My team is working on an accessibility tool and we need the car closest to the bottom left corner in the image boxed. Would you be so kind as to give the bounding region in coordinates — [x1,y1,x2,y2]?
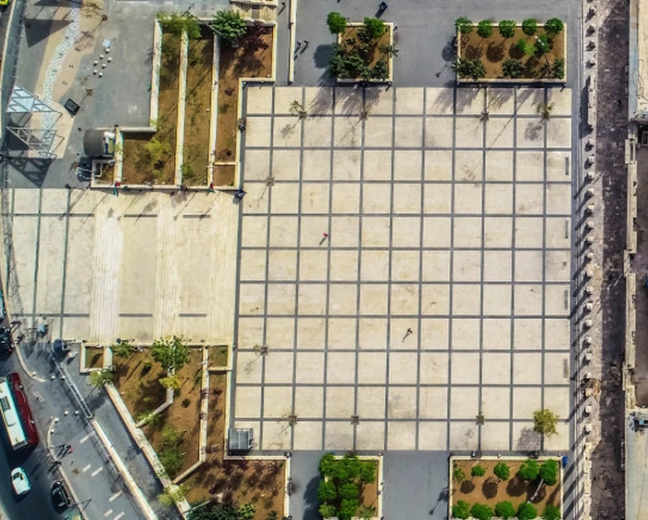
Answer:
[13,467,32,495]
